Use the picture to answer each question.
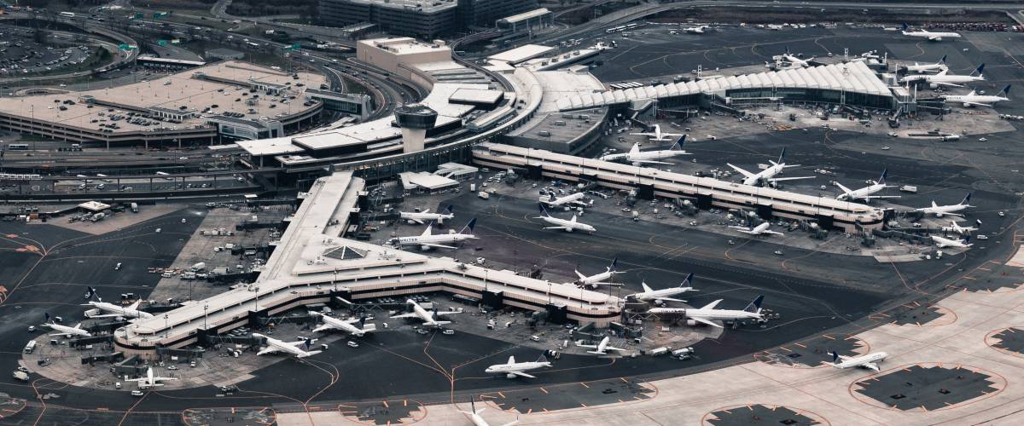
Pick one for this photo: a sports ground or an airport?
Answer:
airport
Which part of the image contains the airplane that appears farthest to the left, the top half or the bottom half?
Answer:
bottom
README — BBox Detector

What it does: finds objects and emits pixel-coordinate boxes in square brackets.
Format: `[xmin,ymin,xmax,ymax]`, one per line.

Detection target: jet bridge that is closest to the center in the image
[505,169,522,187]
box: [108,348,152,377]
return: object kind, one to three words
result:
jet bridge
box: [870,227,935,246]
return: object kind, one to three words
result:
jet bridge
